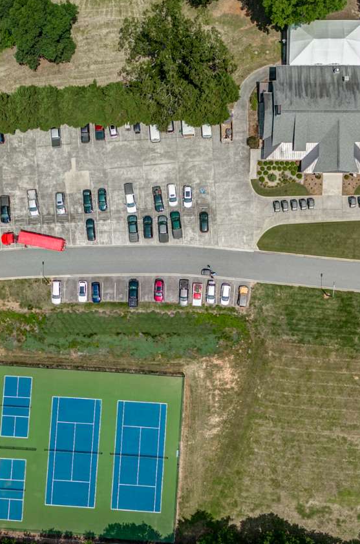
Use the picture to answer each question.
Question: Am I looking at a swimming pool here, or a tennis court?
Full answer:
There is a tennis court in the scene.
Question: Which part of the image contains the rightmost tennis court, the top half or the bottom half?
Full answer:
The rightmost tennis court is in the bottom half of the image.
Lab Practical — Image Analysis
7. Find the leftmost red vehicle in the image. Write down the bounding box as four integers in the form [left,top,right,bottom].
[0,231,25,245]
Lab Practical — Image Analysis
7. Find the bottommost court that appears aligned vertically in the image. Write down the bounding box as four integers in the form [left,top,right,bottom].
[0,458,26,522]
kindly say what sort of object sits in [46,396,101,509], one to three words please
tennis court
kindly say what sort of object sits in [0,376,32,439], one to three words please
sports court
